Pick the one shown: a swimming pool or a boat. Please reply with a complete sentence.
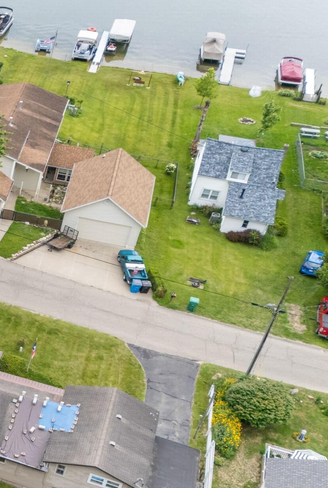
I can see a boat in this picture.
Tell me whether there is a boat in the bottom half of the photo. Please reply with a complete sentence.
No, I can find no boat in the bottom half of the photo.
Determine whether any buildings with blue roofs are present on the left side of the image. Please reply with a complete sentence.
No, on the left side of the image there is no building with a blue roof.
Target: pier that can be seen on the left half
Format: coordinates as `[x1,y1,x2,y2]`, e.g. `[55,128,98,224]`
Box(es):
[88,31,110,74]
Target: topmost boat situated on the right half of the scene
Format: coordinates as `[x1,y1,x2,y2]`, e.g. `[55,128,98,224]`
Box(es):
[201,30,226,65]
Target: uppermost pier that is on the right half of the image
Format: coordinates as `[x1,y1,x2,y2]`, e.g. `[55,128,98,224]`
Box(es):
[217,38,266,87]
